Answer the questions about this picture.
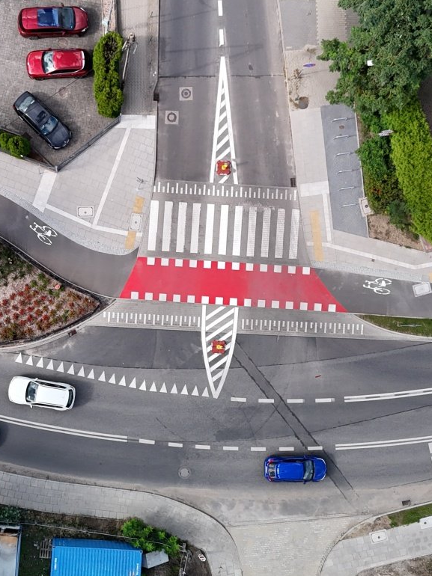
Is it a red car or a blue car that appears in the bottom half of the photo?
blue car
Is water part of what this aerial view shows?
No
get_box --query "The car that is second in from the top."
[25,44,90,82]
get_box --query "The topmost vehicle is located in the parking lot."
[18,2,88,40]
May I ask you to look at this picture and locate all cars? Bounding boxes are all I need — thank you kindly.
[18,2,88,40]
[7,374,77,410]
[25,44,90,82]
[262,452,327,486]
[11,86,74,153]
